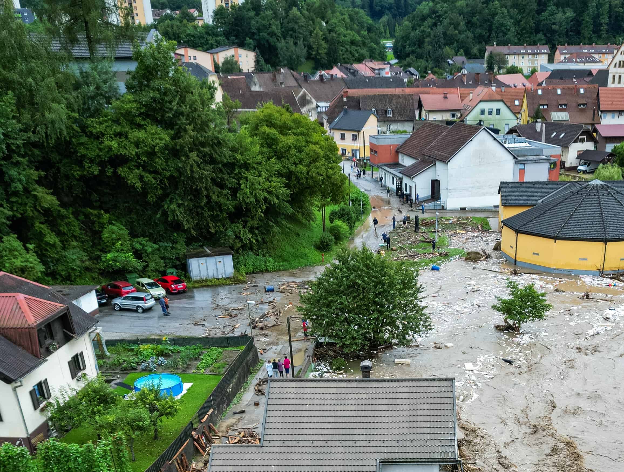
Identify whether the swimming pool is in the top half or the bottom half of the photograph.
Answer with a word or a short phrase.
bottom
